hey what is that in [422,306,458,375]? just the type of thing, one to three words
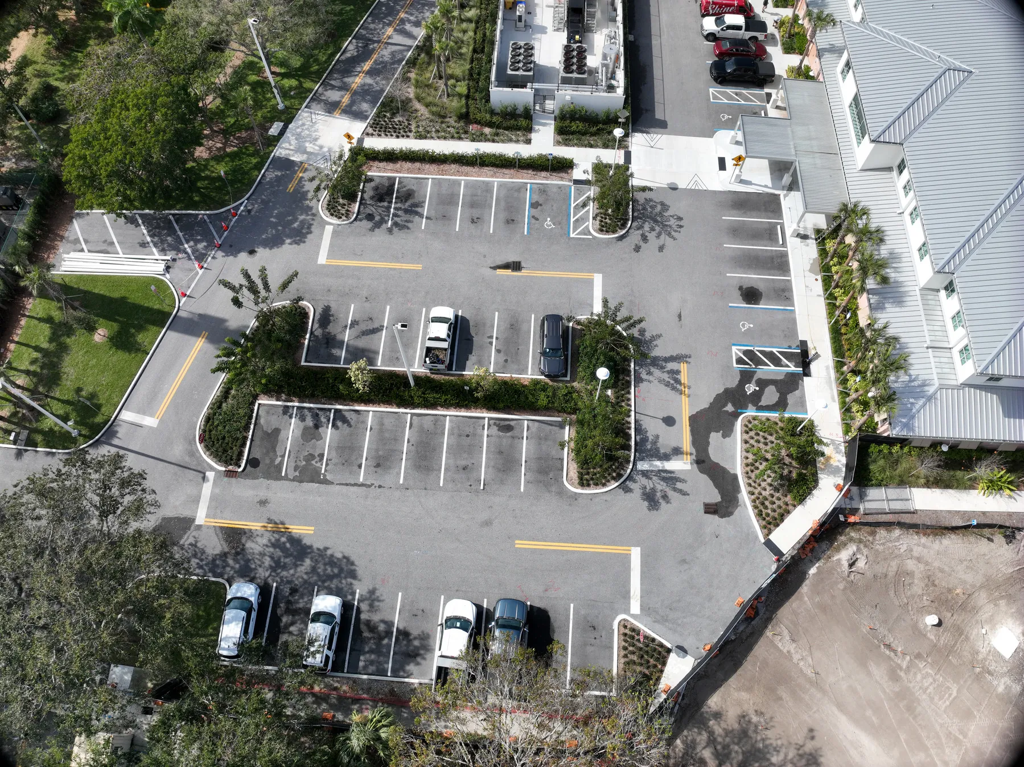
truck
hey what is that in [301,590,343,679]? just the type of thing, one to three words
car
